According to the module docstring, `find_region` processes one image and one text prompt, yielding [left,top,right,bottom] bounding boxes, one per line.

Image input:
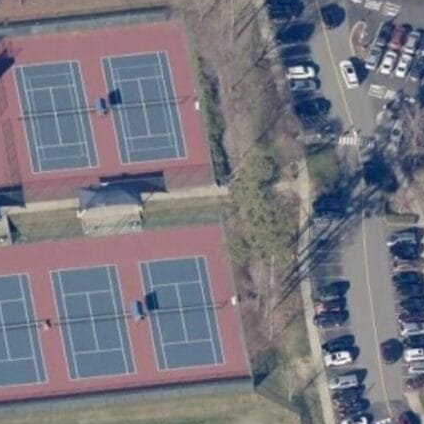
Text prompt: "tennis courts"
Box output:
[0,273,47,386]
[102,51,187,164]
[138,255,225,371]
[50,264,136,380]
[14,60,99,173]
